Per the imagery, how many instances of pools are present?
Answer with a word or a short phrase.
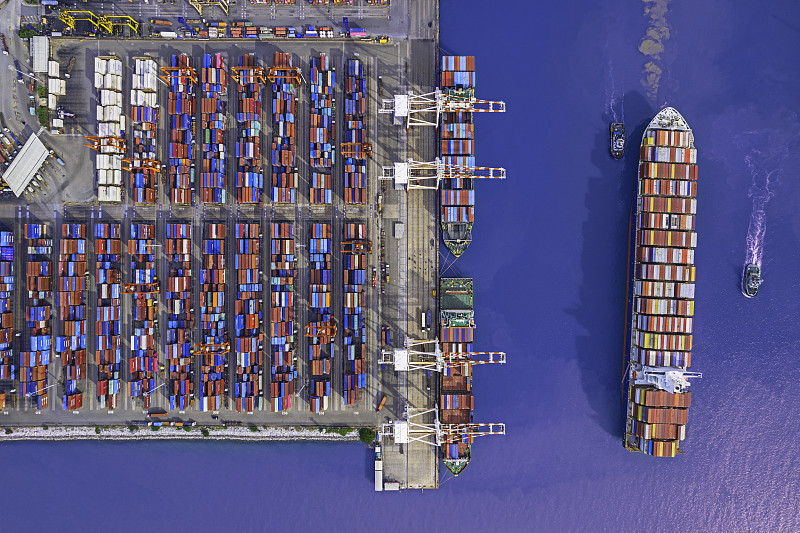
0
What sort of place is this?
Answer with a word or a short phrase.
port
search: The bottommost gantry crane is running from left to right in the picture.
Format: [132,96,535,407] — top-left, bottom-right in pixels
[379,399,505,443]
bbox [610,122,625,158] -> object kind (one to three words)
boat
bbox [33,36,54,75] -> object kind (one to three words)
shed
